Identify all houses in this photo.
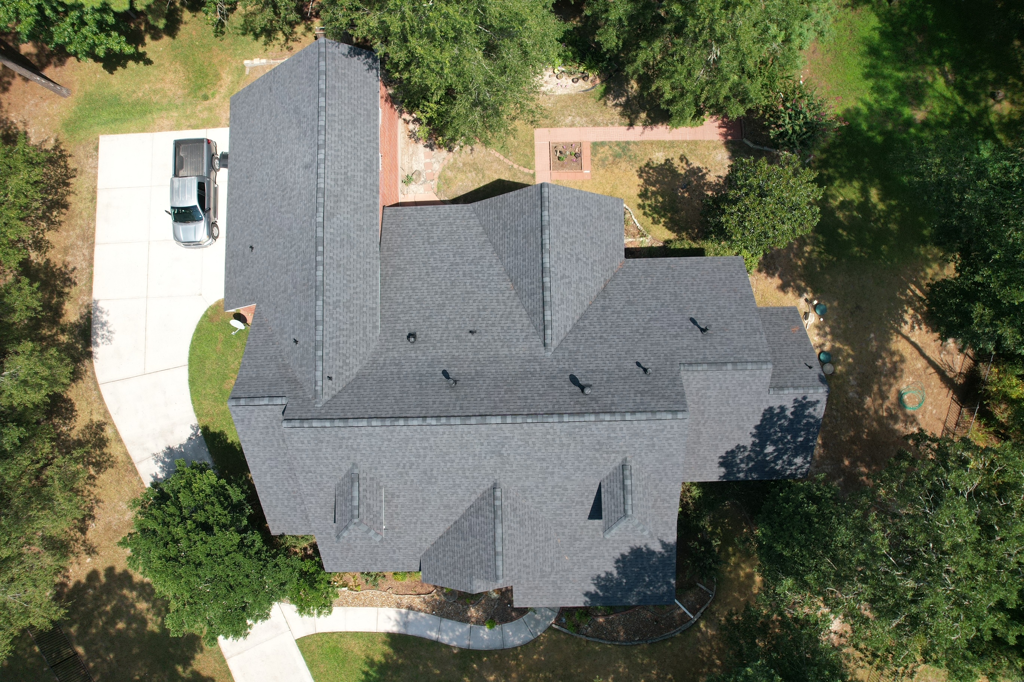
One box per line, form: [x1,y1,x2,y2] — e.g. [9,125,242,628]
[224,36,828,604]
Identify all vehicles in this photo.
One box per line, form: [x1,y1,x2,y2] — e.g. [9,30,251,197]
[166,138,222,249]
